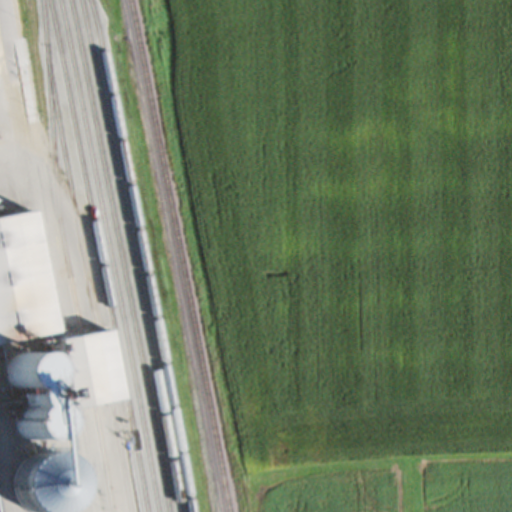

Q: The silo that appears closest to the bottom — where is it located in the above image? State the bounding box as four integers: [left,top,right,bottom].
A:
[14,450,100,512]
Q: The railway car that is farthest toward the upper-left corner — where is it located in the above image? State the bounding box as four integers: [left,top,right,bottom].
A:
[102,49,119,94]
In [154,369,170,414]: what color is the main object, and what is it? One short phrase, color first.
white rail car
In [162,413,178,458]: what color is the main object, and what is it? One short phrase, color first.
white rail car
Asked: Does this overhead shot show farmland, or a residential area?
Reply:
farmland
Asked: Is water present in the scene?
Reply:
No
